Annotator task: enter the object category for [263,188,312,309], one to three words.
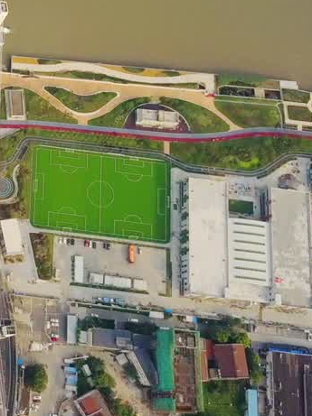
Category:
building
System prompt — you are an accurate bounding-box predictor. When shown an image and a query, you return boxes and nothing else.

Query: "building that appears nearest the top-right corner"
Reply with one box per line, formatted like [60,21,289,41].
[155,109,180,131]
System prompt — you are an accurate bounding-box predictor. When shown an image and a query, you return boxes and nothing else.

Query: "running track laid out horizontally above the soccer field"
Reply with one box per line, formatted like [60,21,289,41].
[0,121,312,142]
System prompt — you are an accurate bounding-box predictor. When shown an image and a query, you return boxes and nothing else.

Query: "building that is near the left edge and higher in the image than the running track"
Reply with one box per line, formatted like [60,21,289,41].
[3,89,27,121]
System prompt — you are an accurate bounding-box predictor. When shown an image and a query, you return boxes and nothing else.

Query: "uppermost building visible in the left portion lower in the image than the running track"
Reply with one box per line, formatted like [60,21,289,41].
[0,219,26,257]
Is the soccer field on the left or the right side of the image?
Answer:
left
